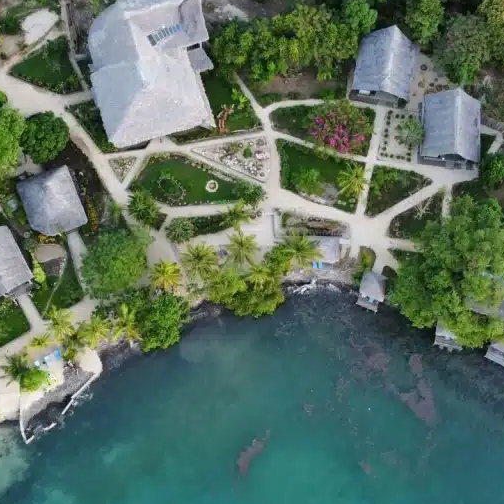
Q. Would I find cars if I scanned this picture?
No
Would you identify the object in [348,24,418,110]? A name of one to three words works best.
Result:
shed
